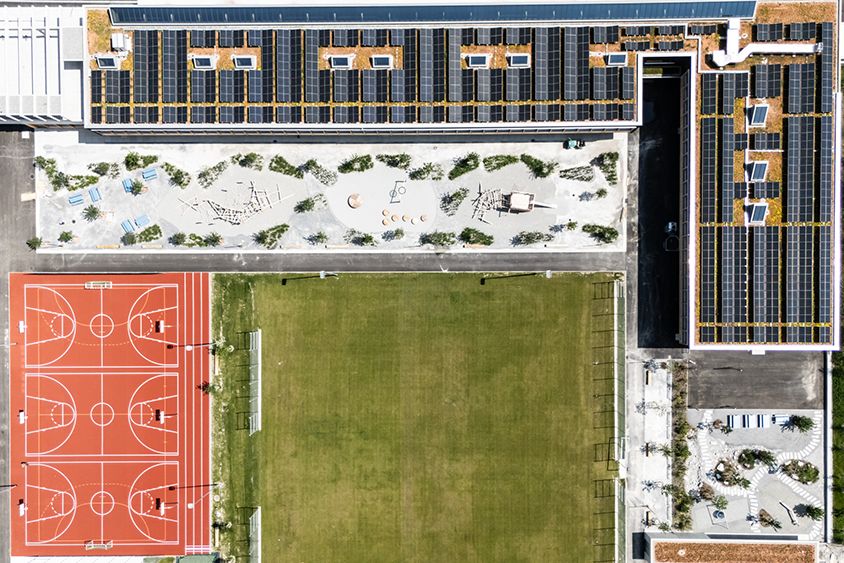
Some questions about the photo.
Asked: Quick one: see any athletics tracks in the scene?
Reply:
Yes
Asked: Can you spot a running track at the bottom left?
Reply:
Yes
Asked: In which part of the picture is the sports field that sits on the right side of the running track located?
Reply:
bottom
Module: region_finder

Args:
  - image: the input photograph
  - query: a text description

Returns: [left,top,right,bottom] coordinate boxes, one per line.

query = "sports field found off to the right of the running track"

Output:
[256,275,619,563]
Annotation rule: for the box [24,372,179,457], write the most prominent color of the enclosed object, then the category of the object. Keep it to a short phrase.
red basketball court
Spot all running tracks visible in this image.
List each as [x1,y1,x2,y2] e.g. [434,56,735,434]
[184,273,210,552]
